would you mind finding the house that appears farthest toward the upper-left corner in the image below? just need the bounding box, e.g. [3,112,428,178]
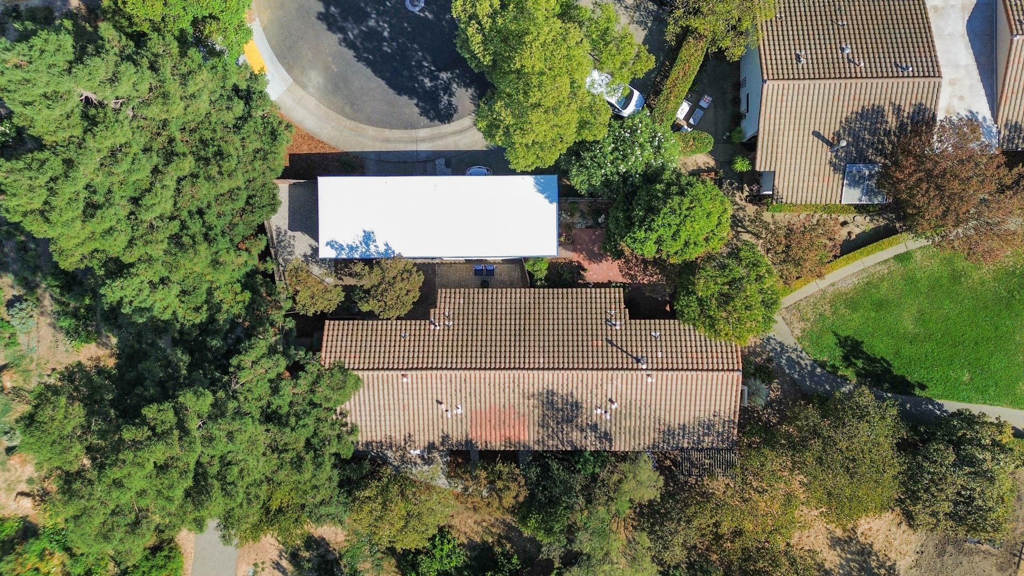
[317,174,559,262]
